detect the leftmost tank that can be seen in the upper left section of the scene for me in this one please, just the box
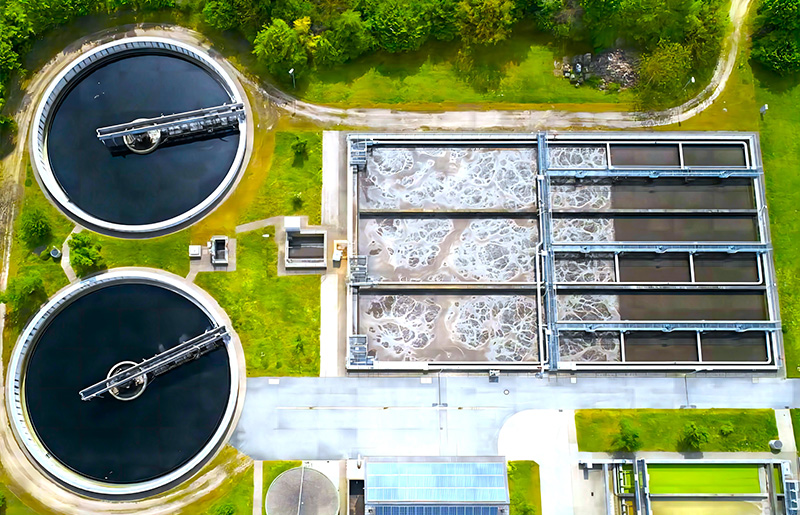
[31,37,248,234]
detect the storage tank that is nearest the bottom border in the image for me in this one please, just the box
[265,466,341,515]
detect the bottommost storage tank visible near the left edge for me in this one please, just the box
[7,270,240,496]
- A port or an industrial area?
industrial area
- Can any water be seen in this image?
Yes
